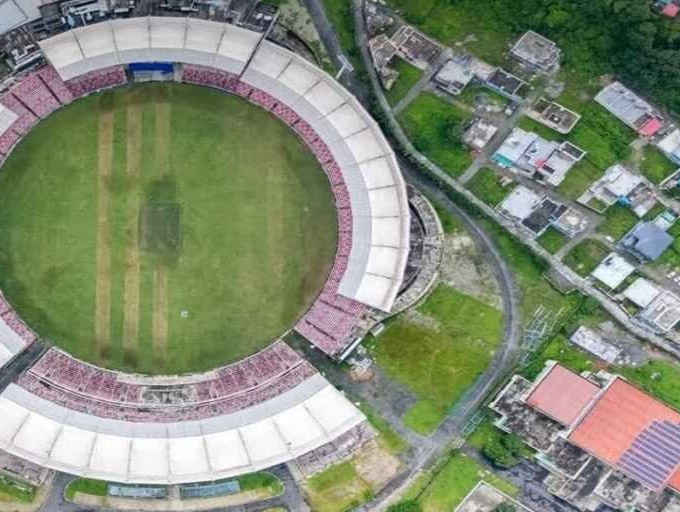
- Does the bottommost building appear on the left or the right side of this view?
right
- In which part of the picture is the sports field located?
left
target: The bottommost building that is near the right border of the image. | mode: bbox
[485,360,680,512]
